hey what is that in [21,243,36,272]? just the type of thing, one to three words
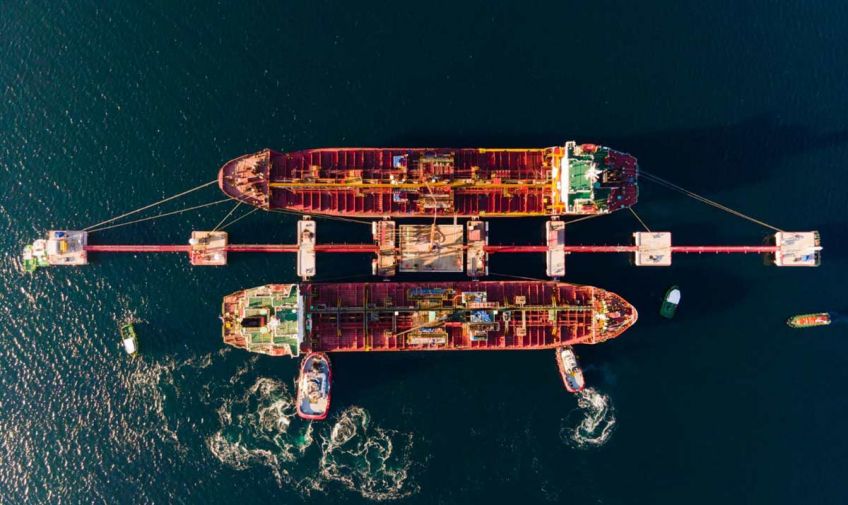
boat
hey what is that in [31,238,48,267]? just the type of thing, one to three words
boat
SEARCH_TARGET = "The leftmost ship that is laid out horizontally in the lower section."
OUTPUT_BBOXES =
[219,281,638,358]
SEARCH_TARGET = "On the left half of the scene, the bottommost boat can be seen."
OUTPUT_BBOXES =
[296,352,330,421]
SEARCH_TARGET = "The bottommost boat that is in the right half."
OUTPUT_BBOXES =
[557,346,585,394]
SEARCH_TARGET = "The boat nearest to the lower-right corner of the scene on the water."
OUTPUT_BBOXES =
[787,311,831,329]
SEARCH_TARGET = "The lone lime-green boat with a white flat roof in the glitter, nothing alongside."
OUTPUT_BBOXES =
[120,325,137,356]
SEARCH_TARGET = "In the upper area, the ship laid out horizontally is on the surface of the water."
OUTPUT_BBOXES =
[218,143,639,218]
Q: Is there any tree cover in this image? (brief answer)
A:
No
